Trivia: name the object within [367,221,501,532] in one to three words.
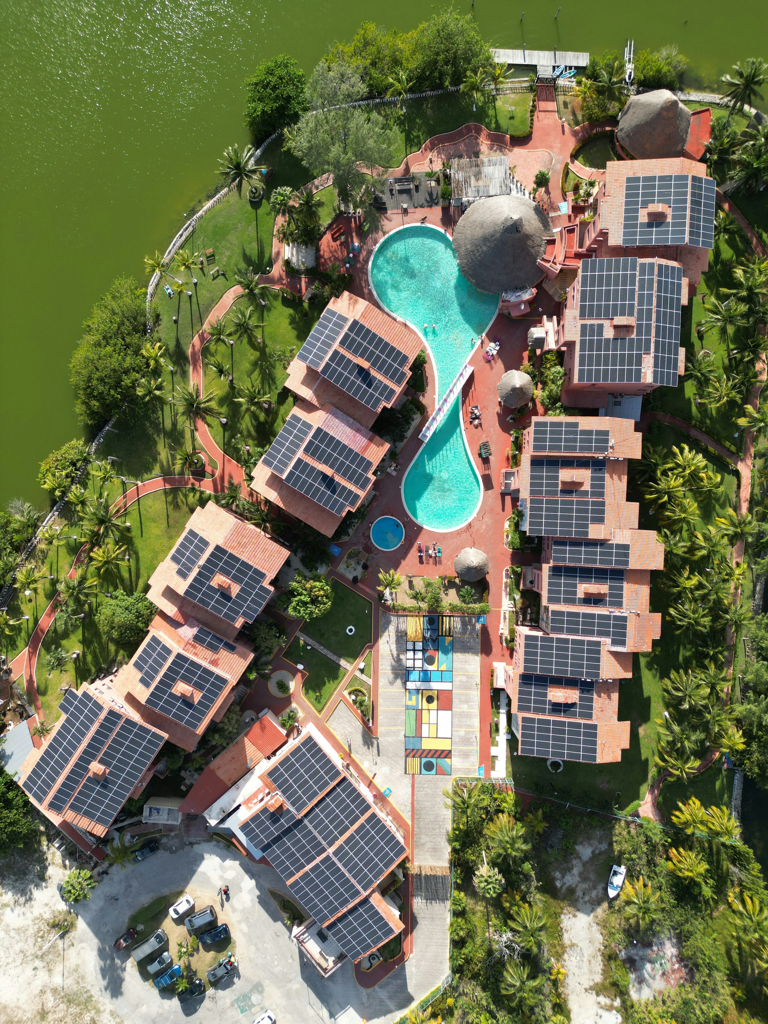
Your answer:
swimming pool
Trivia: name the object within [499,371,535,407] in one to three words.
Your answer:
umbrella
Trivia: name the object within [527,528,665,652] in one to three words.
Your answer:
house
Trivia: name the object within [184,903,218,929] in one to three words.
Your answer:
car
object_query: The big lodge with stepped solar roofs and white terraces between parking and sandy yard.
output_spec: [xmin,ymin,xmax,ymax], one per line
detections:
[213,708,410,977]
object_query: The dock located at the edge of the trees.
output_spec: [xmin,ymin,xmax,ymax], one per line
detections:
[491,49,589,80]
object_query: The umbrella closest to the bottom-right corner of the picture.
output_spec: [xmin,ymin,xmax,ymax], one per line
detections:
[453,547,489,584]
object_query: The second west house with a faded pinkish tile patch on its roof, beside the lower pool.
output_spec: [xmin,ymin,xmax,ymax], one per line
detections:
[250,399,390,538]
